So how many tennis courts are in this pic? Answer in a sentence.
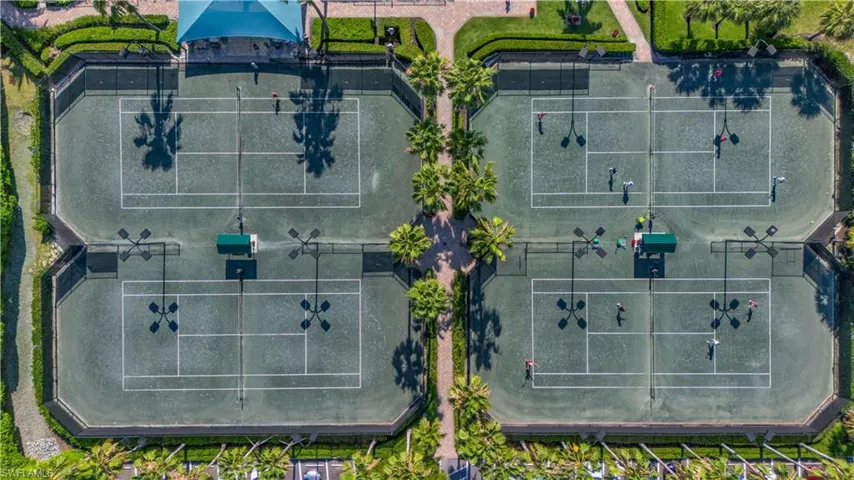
The number of tennis courts here is 4.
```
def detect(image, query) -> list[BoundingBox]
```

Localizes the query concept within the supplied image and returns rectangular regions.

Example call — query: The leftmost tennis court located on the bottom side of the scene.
[52,242,426,429]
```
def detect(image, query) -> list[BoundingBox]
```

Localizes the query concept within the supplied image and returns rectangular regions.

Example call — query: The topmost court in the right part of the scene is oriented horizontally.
[468,59,837,244]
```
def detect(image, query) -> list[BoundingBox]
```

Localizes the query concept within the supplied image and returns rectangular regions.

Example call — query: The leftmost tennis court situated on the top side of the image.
[50,59,426,243]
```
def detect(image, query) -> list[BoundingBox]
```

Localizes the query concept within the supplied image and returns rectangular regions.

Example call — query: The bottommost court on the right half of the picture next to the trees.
[468,243,836,428]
